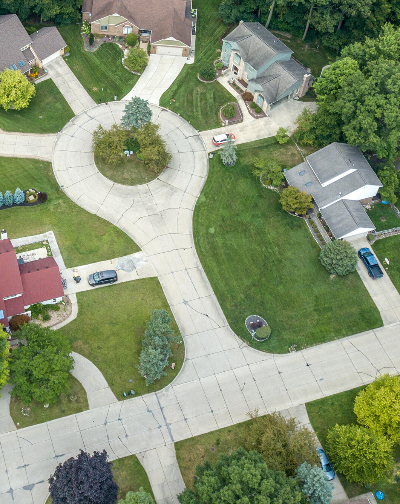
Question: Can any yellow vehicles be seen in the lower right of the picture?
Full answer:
No, no yellow vehicle appears in the lower right of the picture.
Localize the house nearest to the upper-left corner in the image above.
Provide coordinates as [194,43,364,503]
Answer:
[0,15,69,76]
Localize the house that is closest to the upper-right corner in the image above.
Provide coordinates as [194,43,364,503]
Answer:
[220,19,316,112]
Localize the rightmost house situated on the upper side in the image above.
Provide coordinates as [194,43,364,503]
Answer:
[283,143,382,243]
